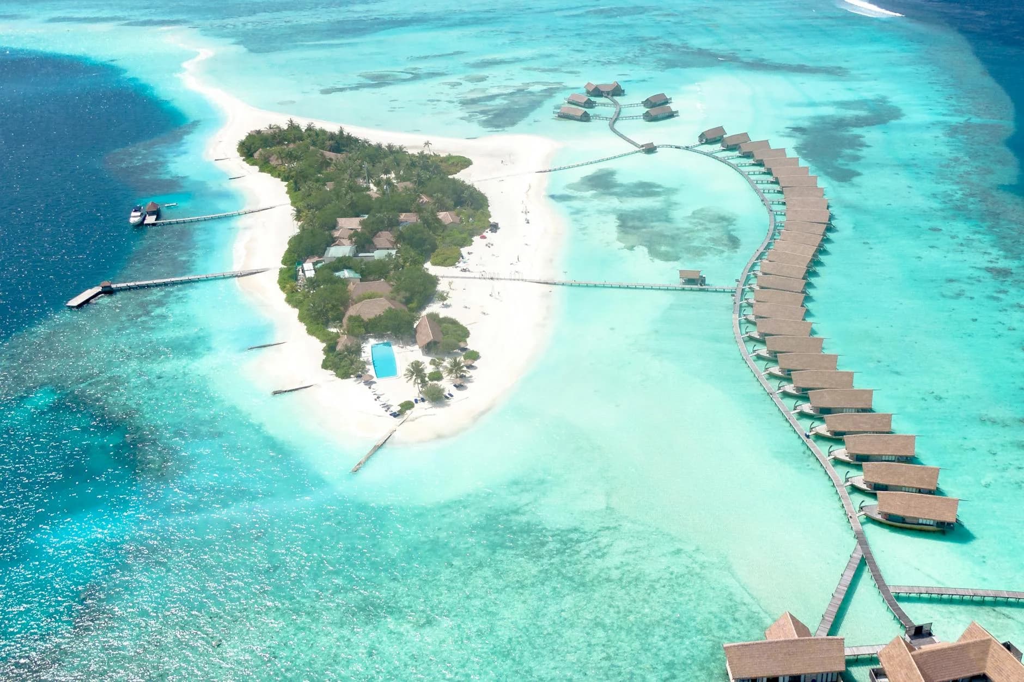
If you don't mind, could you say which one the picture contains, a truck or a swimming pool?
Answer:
swimming pool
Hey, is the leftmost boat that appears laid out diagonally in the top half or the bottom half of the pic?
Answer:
top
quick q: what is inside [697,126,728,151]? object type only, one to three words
house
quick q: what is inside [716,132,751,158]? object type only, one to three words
house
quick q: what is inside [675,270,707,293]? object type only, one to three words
building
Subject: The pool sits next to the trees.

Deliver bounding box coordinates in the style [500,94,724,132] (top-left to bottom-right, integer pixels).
[369,341,400,381]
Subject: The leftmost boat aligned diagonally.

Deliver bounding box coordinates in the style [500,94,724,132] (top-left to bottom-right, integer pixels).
[129,198,150,223]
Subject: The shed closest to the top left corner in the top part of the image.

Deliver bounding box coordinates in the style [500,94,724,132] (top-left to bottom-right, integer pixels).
[144,202,164,228]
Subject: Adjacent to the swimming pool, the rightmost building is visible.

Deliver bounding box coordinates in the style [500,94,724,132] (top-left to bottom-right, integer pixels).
[413,316,446,360]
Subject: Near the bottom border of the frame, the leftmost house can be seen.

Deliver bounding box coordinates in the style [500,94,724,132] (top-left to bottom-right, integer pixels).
[716,611,847,682]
